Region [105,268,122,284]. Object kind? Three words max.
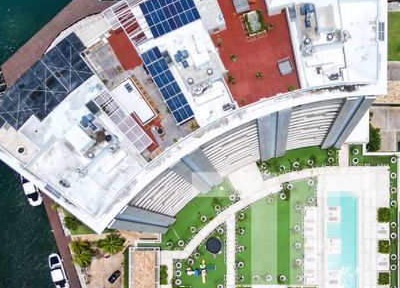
car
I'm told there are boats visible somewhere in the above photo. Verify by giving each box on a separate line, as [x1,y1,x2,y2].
[49,253,66,288]
[24,176,44,209]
